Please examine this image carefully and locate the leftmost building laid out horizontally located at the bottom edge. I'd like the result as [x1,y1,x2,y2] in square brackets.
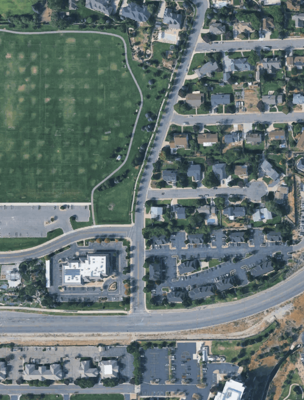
[22,364,63,381]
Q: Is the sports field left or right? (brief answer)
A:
left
